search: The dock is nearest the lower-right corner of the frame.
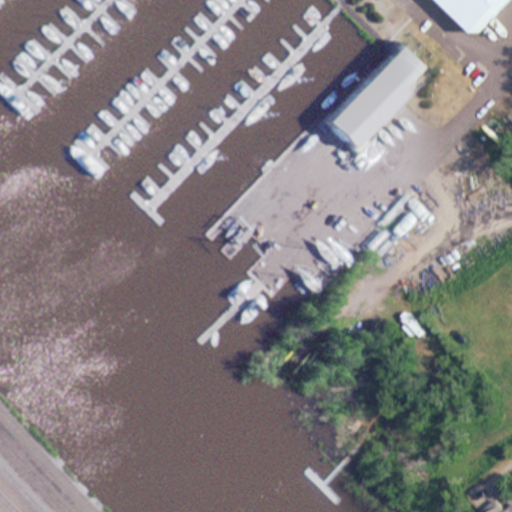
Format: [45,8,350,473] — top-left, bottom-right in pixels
[304,458,350,505]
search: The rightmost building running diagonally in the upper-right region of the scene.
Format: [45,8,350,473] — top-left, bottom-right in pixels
[324,44,428,148]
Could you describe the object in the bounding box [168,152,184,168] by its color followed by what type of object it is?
white boat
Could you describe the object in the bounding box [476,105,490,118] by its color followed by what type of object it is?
white vehicle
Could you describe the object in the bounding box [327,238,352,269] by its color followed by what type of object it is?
white boat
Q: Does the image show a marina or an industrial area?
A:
marina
